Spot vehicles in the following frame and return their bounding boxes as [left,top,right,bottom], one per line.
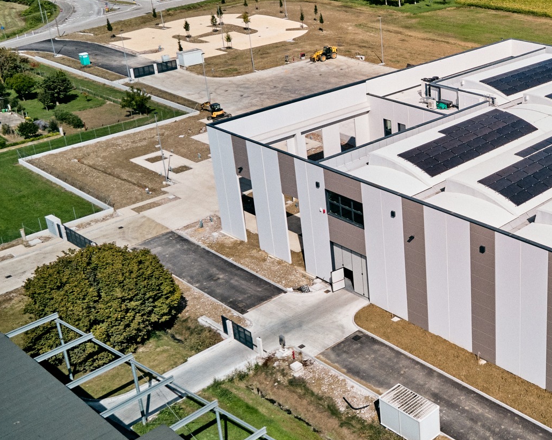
[310,46,340,64]
[195,101,228,120]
